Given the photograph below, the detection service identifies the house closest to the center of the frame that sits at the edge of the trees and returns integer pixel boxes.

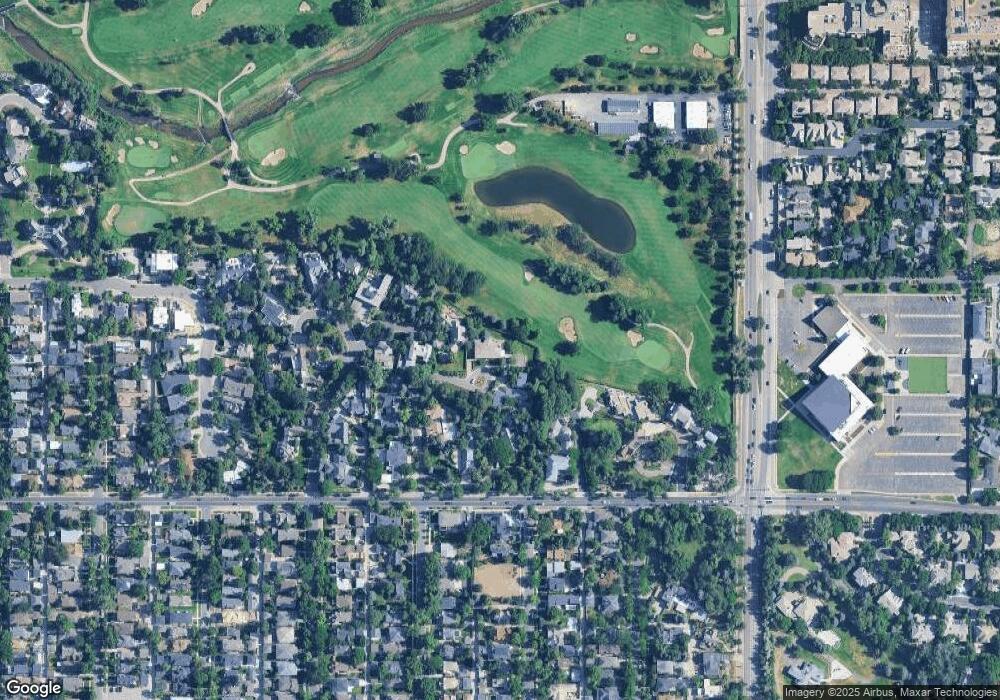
[474,340,512,357]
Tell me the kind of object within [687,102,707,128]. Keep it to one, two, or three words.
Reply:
shed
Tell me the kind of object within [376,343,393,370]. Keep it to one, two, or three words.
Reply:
house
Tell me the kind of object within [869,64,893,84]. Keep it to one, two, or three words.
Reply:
house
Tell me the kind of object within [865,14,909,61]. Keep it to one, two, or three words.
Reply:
building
